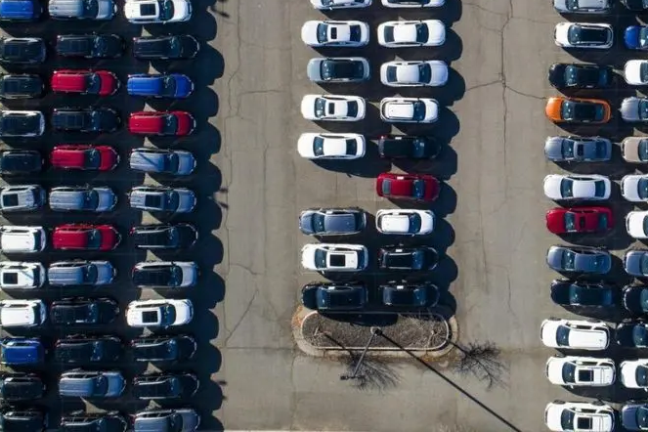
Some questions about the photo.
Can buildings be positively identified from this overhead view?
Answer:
No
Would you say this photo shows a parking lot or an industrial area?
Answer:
parking lot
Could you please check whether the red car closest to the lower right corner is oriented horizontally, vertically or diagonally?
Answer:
horizontally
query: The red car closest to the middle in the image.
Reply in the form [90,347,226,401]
[377,173,441,203]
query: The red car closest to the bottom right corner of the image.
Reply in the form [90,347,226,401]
[546,205,615,236]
